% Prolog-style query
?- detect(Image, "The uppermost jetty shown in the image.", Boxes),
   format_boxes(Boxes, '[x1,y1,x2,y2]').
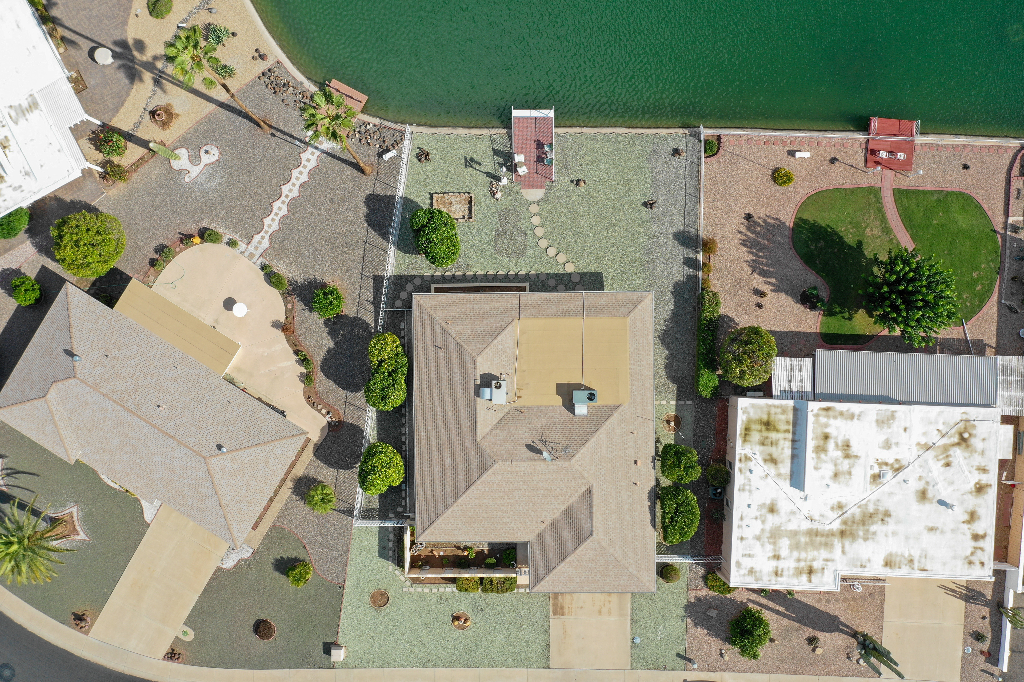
[311,78,368,131]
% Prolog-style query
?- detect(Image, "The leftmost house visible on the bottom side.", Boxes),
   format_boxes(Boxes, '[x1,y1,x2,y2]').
[0,278,309,550]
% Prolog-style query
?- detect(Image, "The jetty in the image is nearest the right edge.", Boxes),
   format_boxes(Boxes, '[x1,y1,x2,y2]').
[866,115,921,170]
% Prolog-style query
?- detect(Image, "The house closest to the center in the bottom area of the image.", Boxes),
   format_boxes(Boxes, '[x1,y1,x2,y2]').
[410,289,658,595]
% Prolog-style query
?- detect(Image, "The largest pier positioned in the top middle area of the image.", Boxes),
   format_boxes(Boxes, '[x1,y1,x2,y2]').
[512,101,555,201]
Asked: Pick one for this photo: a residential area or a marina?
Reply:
residential area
